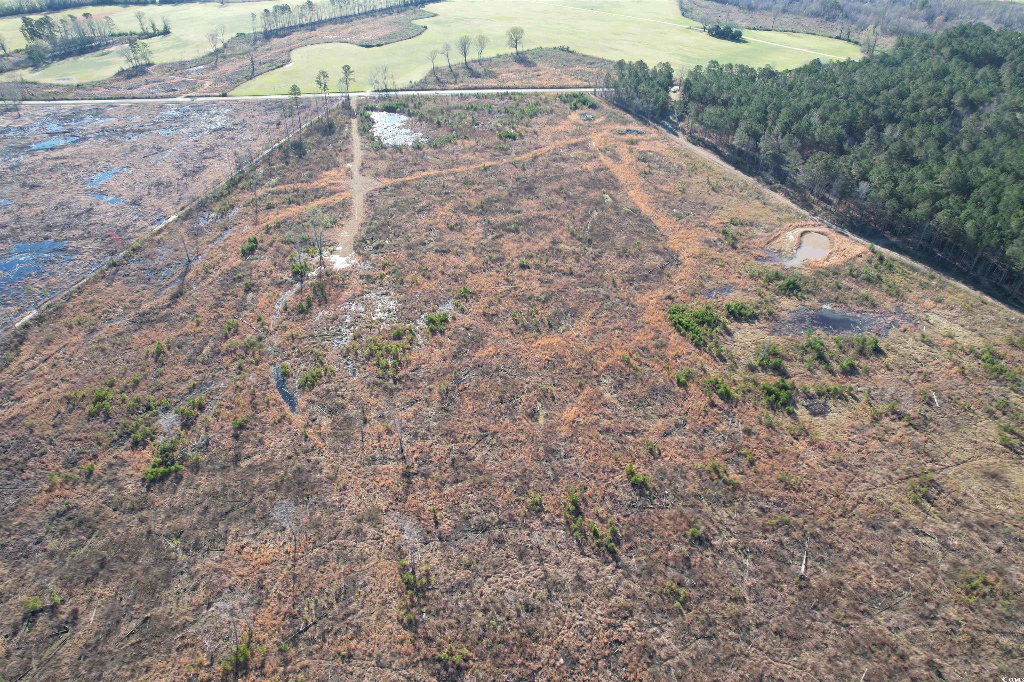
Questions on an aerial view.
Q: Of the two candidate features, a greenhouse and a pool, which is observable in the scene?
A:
pool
